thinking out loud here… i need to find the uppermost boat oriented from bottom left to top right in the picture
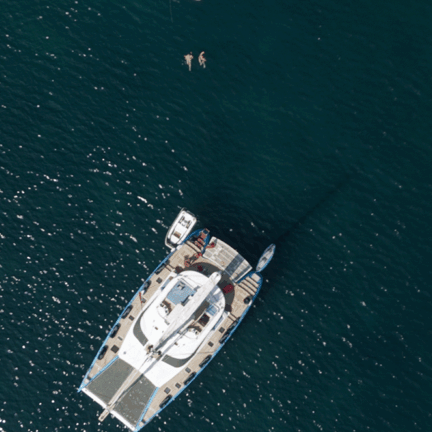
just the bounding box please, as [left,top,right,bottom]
[163,208,197,251]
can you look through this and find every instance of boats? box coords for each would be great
[255,243,275,274]
[77,229,260,432]
[163,208,197,251]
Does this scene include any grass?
No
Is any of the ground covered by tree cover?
No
